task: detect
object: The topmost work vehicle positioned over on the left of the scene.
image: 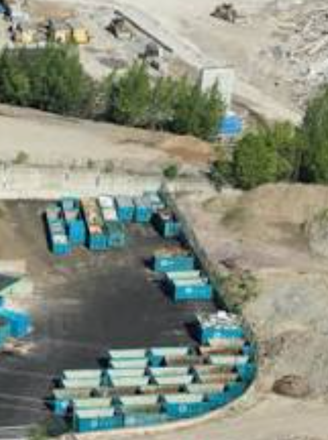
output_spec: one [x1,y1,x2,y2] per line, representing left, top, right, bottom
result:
[108,13,141,37]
